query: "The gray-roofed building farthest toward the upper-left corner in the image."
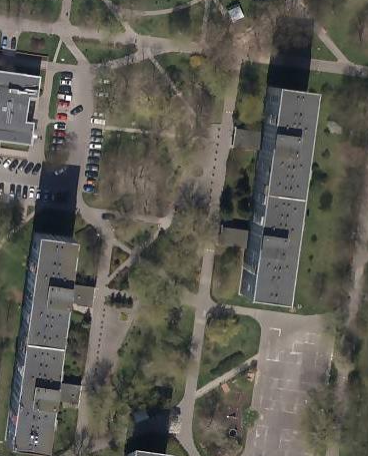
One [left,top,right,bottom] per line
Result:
[0,71,41,150]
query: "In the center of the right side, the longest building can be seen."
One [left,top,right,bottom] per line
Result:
[220,87,321,307]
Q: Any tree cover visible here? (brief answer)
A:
Yes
